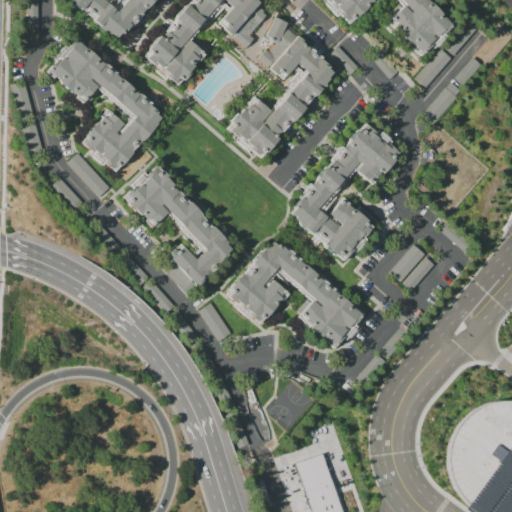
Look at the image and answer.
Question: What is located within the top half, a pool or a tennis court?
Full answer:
It is a pool that can be seen within the top half.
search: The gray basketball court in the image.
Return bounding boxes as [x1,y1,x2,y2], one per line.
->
[268,381,312,430]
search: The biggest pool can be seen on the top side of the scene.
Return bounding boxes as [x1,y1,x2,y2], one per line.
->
[188,49,254,122]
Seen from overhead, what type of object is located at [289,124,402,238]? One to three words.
building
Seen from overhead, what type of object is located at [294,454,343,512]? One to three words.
building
